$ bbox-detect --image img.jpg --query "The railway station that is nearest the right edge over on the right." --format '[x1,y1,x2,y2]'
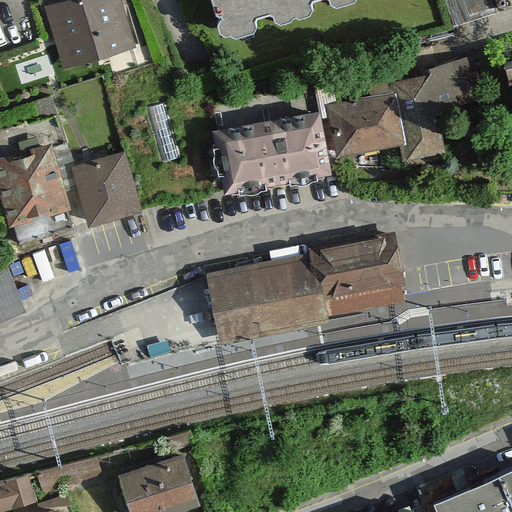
[312,232,406,299]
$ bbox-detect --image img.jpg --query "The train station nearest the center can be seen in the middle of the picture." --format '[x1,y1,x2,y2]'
[207,250,328,344]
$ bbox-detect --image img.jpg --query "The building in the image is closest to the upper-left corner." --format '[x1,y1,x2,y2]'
[44,0,136,70]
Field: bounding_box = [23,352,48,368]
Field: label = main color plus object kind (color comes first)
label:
white vehicle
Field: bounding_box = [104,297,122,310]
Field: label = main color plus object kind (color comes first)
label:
white vehicle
